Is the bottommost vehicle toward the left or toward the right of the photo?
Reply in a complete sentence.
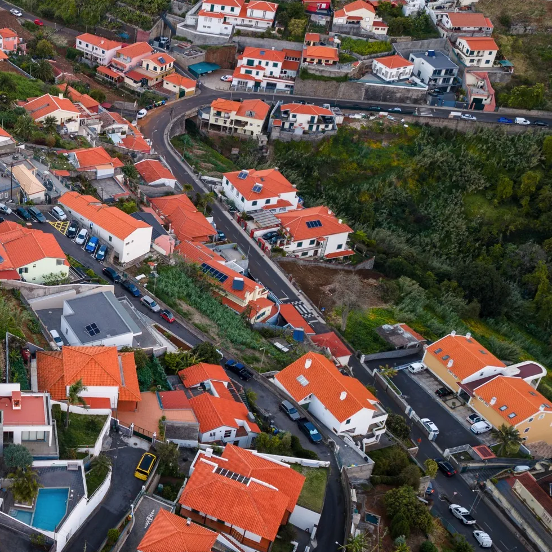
You can find the bottommost vehicle on the right side of the picture.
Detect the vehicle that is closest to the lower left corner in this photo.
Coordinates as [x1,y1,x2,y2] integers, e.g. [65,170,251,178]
[135,452,156,479]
